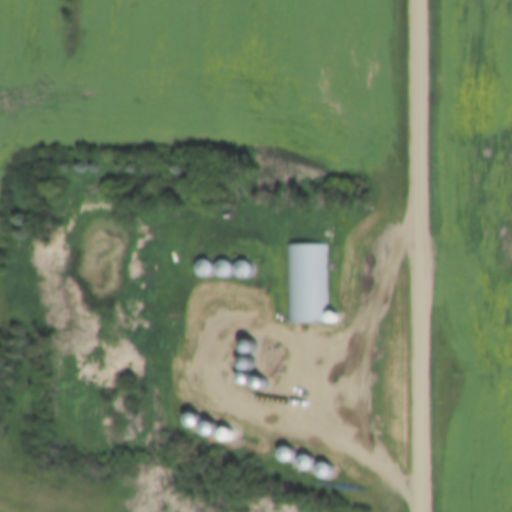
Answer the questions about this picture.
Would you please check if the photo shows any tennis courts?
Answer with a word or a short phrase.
No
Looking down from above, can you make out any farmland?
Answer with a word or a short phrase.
Yes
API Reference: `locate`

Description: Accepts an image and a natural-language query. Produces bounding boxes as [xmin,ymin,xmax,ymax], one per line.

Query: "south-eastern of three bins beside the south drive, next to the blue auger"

[314,460,337,482]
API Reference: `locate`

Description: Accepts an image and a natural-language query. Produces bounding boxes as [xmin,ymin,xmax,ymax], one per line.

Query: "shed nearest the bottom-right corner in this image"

[290,244,330,323]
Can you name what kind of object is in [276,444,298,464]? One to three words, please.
silo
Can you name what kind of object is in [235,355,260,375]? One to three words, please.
silo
